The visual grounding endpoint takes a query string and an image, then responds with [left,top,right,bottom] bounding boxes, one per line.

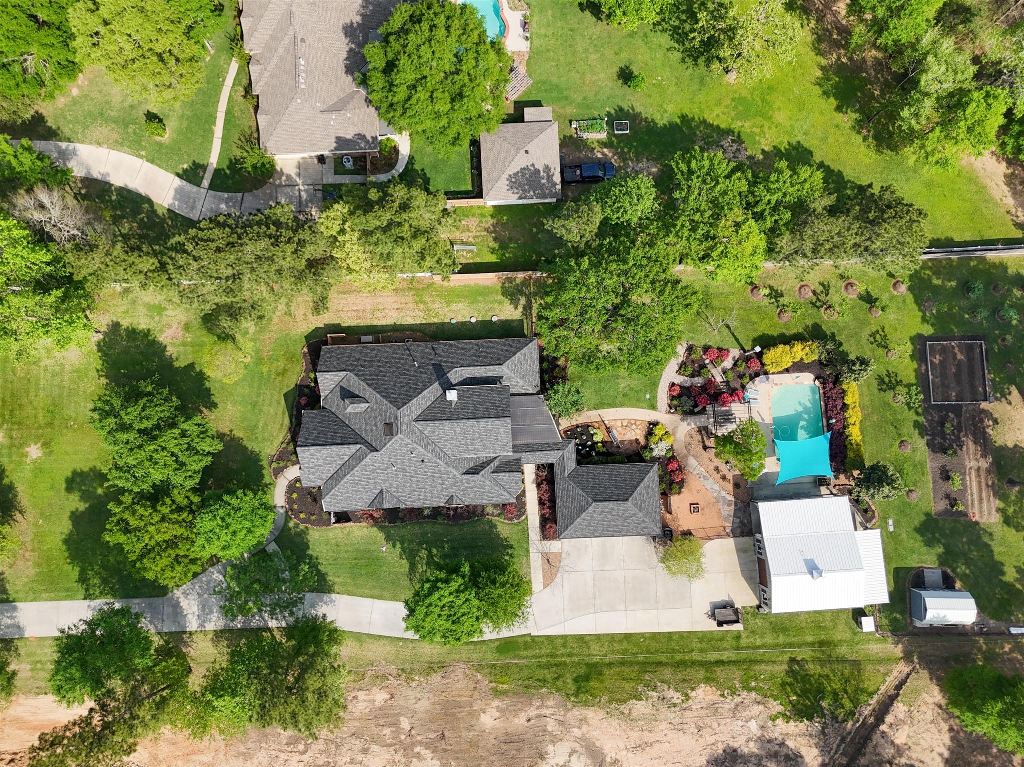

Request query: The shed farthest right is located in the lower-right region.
[912,569,977,625]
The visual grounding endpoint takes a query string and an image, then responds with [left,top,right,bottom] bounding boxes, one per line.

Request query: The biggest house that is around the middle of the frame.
[296,337,539,522]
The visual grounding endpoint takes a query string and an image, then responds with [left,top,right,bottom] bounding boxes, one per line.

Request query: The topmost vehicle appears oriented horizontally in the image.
[562,161,616,185]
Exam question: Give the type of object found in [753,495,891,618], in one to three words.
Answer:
barn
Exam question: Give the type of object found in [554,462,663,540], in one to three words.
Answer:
building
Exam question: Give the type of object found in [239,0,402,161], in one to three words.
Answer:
house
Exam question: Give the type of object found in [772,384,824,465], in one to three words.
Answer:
swimming pool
